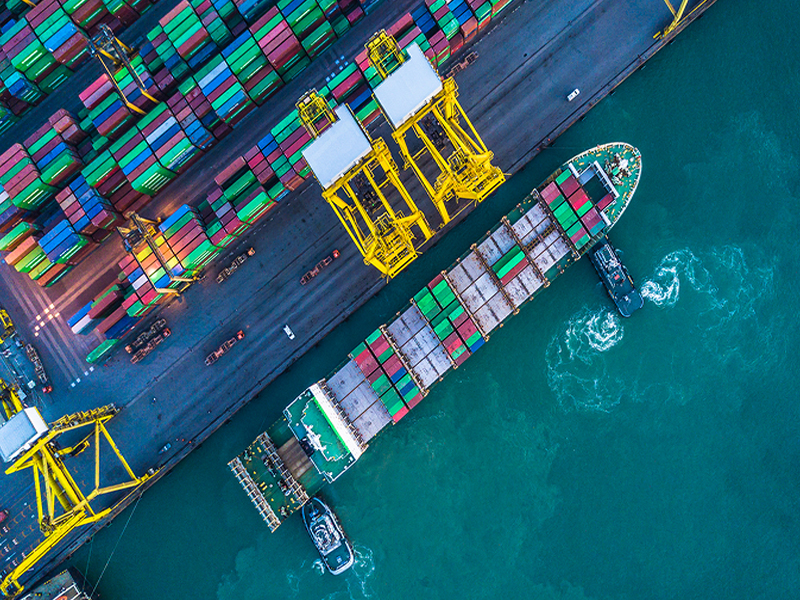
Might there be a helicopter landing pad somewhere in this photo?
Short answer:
No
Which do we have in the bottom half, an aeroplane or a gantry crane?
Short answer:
gantry crane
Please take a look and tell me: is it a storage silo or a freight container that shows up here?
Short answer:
freight container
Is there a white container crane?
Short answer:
No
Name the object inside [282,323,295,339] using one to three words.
vehicle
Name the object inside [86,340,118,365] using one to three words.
shipping container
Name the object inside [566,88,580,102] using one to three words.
vehicle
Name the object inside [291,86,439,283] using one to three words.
container crane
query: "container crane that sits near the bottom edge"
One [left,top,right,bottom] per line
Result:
[0,367,150,600]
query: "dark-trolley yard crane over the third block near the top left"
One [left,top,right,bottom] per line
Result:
[85,25,159,117]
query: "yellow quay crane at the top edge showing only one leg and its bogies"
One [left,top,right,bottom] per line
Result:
[652,0,709,44]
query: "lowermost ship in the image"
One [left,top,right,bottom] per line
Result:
[27,563,104,600]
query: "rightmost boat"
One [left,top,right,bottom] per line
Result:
[589,234,642,320]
